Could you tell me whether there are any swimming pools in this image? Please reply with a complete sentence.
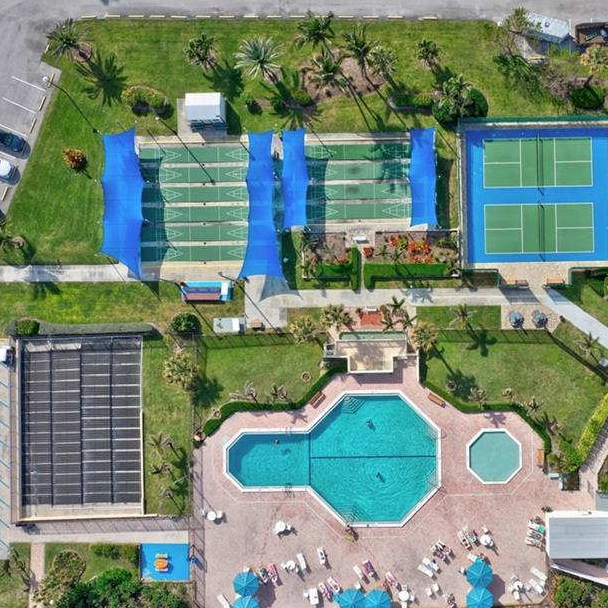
Yes, this view includes a swimming pool.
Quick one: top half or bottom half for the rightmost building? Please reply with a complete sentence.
The bottom half of the photo is where the rightmost building is.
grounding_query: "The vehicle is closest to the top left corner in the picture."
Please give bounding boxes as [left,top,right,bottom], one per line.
[0,128,28,155]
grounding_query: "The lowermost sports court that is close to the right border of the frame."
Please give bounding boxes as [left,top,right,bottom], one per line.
[485,200,595,256]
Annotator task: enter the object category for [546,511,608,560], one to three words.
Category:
building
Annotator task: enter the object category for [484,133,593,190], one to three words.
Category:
sports court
